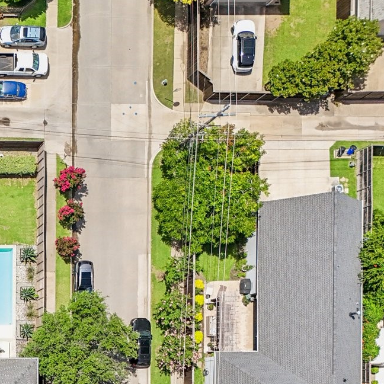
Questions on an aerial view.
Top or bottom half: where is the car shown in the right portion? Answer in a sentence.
The top half of the photo is where the car shown in the right portion is.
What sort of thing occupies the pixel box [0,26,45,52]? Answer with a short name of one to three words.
car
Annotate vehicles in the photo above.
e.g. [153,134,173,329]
[0,53,45,78]
[229,26,255,75]
[0,26,45,52]
[71,257,95,305]
[0,82,26,103]
[127,320,152,369]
